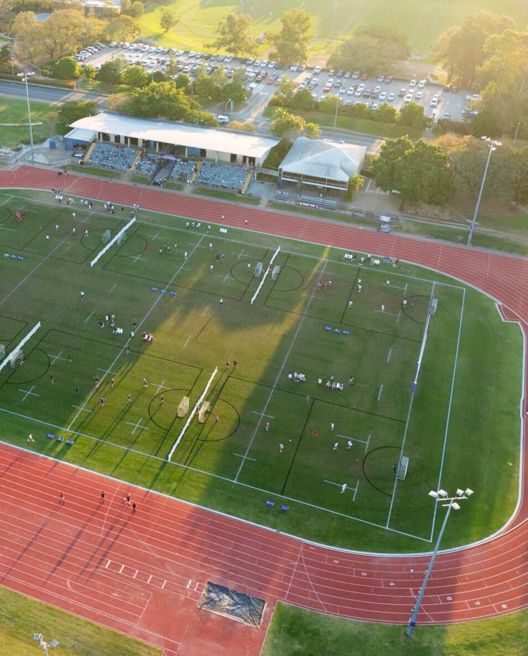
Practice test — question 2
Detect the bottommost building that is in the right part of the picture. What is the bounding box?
[278,138,366,201]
